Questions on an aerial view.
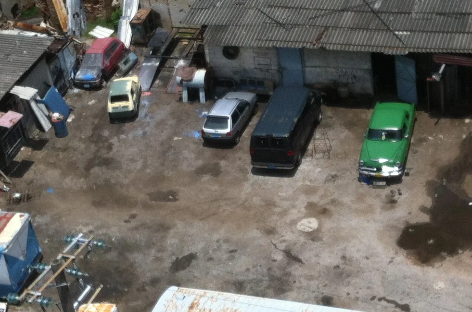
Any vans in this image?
Yes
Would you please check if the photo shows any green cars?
Yes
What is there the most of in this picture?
paved ground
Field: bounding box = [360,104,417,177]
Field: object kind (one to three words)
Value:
car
